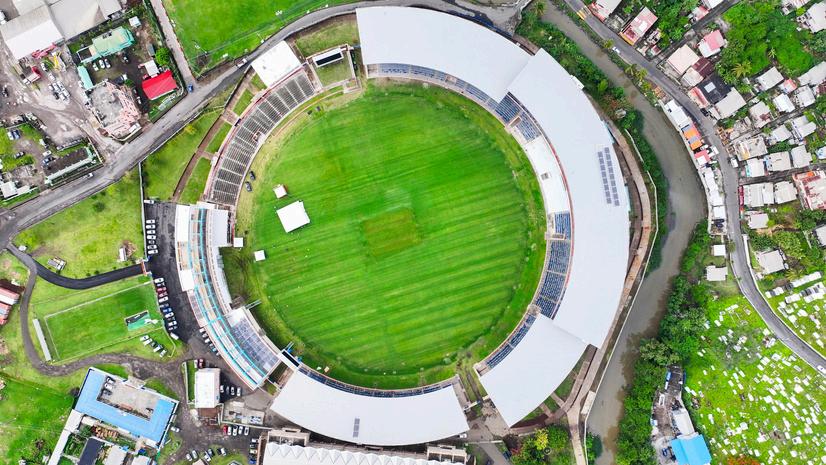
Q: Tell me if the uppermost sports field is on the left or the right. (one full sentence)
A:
The uppermost sports field appears in the left half of the scene.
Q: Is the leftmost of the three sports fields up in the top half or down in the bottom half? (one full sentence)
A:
The bottom half of the photo is where the leftmost of the three sports fields is.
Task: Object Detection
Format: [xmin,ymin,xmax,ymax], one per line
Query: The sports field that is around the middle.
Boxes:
[219,80,547,391]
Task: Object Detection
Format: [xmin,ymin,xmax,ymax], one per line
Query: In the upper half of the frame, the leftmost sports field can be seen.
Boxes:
[164,0,343,69]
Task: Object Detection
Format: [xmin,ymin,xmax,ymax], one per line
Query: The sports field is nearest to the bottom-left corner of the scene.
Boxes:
[46,281,164,360]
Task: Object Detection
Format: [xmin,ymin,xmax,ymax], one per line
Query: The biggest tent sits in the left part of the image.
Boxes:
[277,199,310,232]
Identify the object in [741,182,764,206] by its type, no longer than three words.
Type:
house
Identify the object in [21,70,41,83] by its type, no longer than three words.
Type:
vehicle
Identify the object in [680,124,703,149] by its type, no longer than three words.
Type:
building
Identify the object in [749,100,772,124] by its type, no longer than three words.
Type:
house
